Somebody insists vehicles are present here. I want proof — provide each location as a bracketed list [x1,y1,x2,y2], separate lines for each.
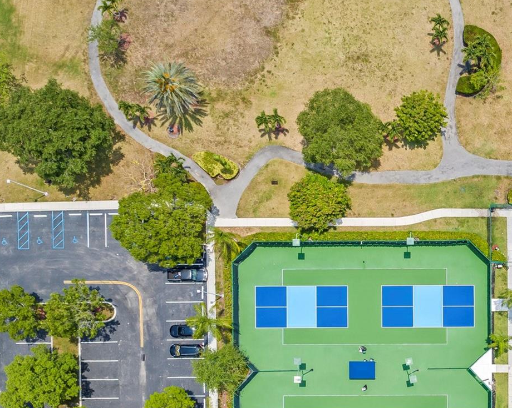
[170,344,204,359]
[166,324,198,339]
[167,267,209,283]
